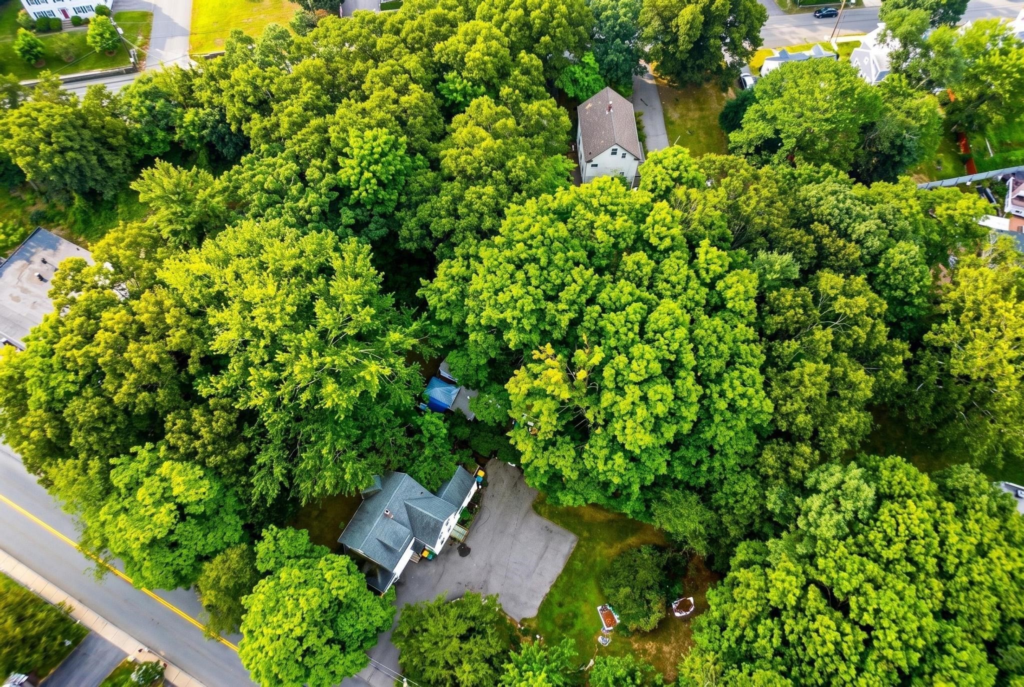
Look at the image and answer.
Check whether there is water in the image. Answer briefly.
No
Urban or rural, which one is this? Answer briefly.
rural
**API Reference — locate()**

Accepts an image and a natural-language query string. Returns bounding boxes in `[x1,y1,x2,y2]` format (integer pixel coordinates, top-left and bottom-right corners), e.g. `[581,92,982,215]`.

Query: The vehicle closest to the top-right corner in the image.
[813,7,839,20]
